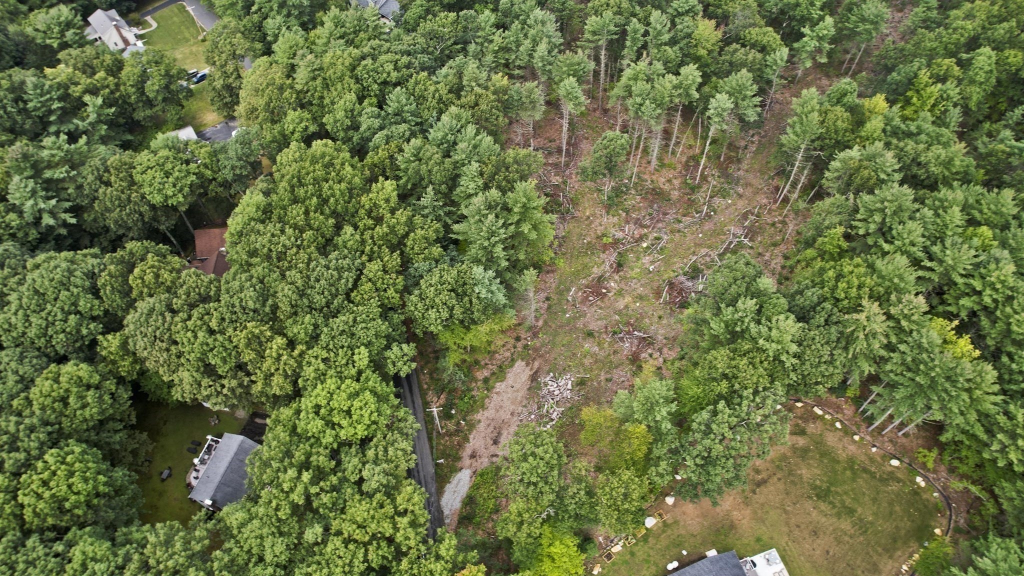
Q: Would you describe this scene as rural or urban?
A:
rural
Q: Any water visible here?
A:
No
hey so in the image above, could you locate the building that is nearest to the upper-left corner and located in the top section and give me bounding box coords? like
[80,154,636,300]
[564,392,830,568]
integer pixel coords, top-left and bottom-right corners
[90,9,158,66]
